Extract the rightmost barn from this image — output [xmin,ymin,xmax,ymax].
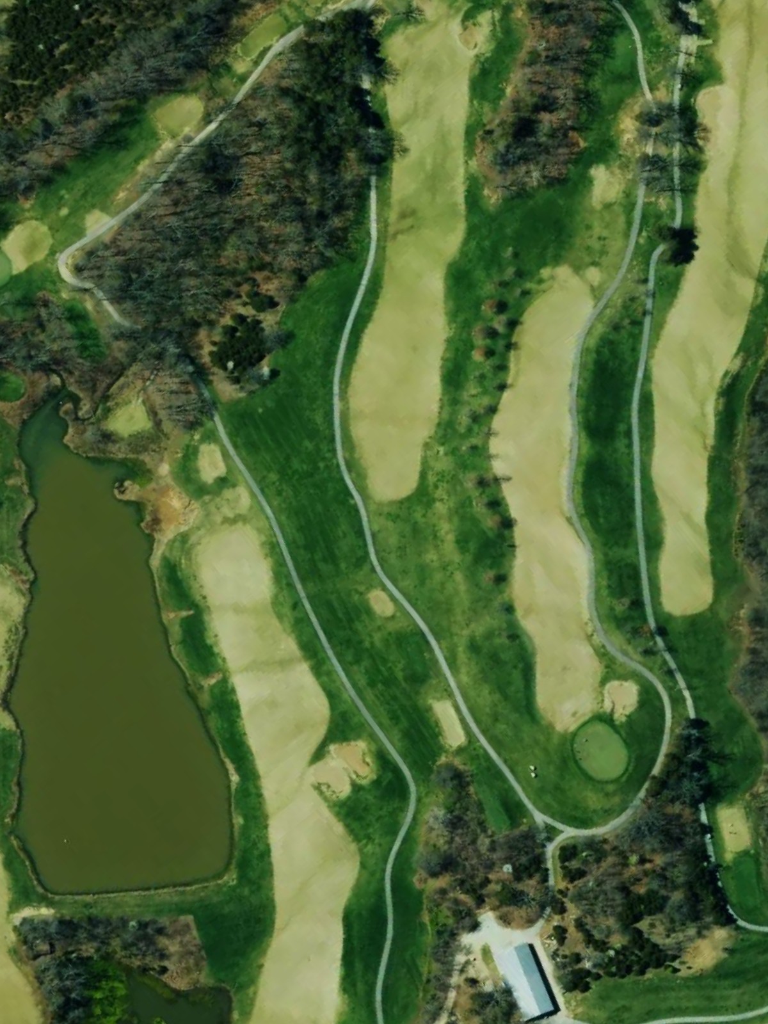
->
[501,946,555,1022]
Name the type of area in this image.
golf course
